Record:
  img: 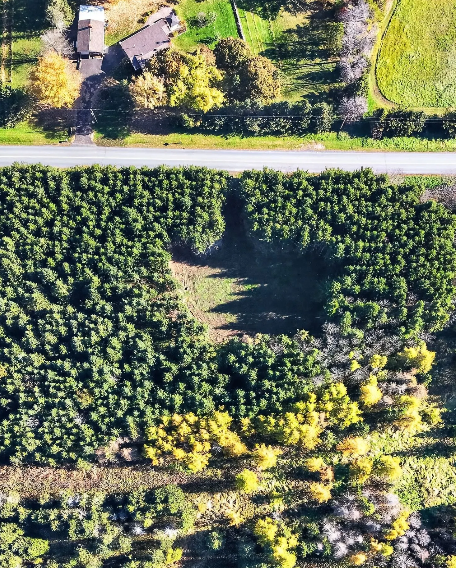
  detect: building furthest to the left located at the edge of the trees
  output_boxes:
[77,1,112,57]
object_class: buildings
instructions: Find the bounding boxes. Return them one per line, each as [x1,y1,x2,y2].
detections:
[77,1,112,57]
[119,15,174,76]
